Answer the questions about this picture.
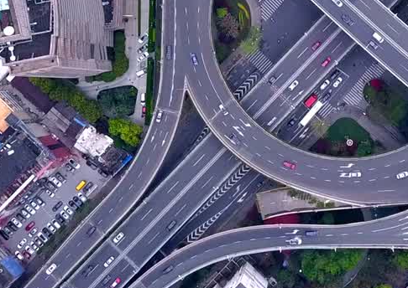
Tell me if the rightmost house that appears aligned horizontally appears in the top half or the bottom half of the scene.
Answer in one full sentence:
The rightmost house that appears aligned horizontally sits in the bottom half of the picture.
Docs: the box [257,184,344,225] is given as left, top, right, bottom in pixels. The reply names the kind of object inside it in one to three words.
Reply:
house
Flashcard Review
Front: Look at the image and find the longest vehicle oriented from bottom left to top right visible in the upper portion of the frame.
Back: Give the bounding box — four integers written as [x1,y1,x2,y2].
[298,99,324,128]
